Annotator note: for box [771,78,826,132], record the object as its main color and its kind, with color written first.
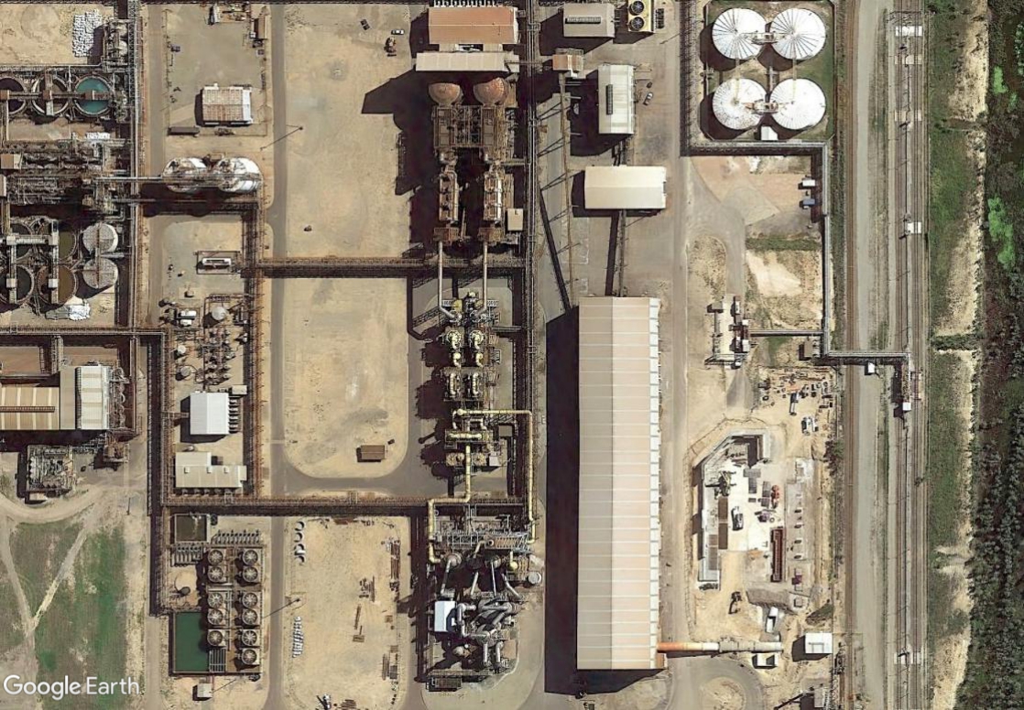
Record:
white storage tank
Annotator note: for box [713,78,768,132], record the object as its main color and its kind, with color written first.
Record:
white storage tank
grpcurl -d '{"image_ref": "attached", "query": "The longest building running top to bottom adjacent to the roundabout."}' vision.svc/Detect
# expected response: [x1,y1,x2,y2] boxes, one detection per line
[579,298,668,670]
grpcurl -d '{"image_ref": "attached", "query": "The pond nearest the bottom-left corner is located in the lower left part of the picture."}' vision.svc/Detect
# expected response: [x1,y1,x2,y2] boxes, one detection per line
[172,612,212,673]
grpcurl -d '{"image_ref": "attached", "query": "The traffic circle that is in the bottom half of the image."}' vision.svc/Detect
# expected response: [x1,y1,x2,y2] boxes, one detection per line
[669,655,766,710]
